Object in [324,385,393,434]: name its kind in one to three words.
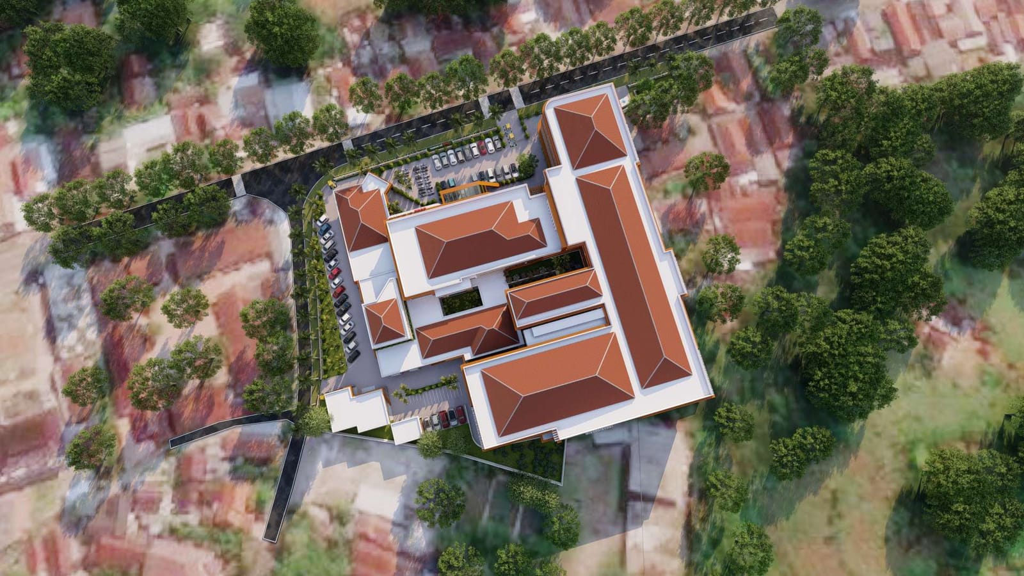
building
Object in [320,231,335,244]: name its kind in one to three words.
vehicle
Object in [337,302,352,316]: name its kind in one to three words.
car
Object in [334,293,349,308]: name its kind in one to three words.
car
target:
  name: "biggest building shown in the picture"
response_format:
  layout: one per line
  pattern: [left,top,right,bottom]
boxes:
[461,83,715,452]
